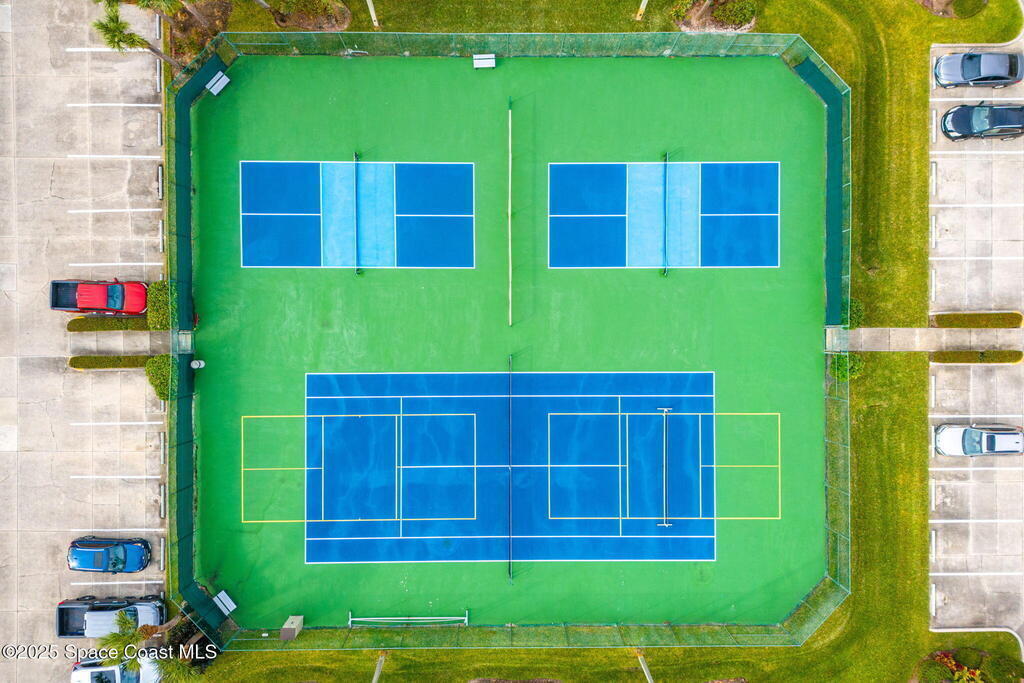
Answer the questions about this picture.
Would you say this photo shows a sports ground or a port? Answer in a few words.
sports ground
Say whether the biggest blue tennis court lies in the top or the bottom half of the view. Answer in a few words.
bottom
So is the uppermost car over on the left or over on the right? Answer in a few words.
right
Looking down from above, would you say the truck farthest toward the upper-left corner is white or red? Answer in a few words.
red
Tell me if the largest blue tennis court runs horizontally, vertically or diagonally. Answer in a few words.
horizontally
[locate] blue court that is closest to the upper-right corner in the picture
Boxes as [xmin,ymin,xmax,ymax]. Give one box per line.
[548,162,780,268]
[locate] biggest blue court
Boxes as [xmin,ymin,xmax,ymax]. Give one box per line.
[305,371,717,564]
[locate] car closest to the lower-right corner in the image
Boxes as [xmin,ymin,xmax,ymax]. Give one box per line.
[933,422,1022,461]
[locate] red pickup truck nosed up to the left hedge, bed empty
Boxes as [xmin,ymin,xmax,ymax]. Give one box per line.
[51,277,151,318]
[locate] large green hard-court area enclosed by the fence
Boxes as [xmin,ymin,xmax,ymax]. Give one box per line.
[192,53,827,630]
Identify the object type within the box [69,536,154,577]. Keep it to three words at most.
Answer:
car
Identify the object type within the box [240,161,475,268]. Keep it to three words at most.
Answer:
sports court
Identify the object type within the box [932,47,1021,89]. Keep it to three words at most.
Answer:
car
